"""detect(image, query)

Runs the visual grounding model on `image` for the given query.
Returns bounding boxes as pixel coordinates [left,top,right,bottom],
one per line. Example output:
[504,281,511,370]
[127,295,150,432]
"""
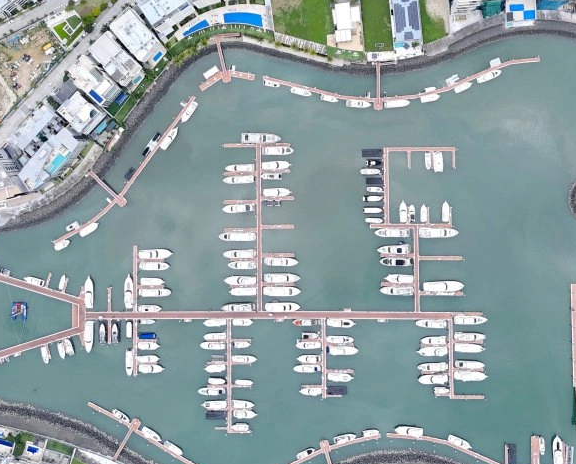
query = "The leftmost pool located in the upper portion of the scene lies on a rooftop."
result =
[51,154,68,173]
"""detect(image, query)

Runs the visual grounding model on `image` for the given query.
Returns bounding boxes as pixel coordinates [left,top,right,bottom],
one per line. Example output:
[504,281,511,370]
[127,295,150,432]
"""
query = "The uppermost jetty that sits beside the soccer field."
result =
[263,57,540,109]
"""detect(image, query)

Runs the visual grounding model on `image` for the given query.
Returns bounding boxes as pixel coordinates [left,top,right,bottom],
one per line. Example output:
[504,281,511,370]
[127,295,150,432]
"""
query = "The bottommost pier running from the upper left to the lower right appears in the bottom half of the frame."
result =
[87,401,196,464]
